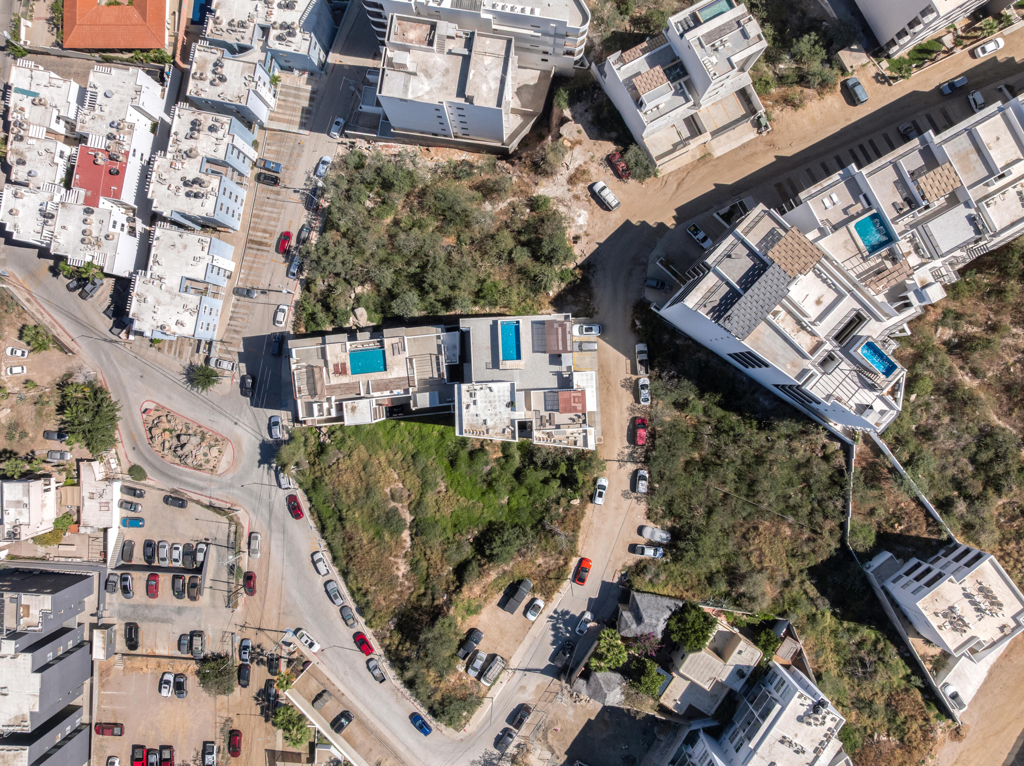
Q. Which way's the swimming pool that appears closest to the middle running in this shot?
up and down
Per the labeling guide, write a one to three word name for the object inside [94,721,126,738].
vehicle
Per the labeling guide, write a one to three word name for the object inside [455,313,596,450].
building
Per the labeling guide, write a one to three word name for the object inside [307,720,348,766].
house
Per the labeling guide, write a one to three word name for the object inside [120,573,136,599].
car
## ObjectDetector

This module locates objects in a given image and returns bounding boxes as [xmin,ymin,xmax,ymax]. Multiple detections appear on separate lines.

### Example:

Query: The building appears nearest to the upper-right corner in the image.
[868,0,989,58]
